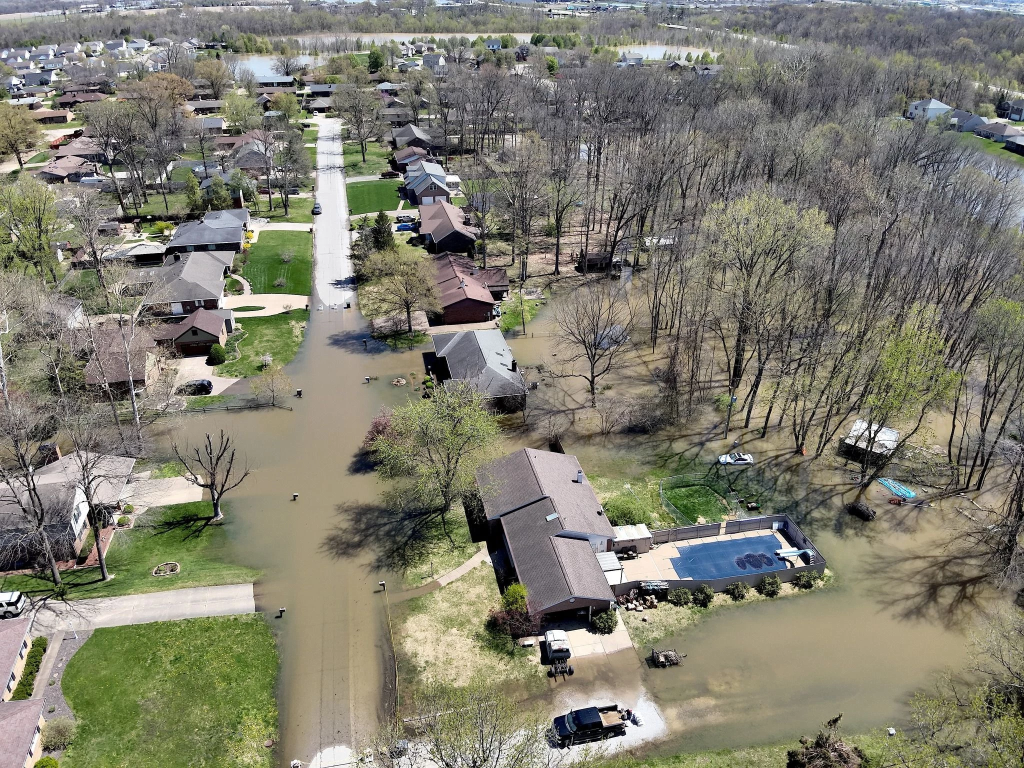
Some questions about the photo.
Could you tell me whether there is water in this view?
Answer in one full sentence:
Yes, there is water in the image.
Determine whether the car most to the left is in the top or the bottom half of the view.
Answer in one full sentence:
The car most to the left sits in the bottom half of the picture.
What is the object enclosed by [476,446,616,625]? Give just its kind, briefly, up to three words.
house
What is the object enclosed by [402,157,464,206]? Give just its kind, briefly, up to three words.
house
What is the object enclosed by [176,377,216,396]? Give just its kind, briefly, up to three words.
car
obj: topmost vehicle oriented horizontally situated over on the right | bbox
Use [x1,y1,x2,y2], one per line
[717,450,756,466]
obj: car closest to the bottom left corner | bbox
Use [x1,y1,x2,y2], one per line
[0,586,35,615]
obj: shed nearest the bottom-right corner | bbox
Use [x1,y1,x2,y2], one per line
[845,420,900,471]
